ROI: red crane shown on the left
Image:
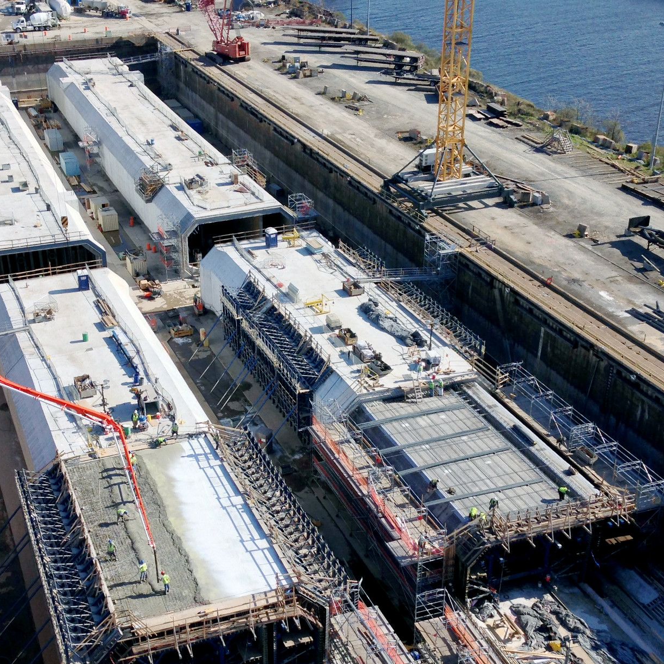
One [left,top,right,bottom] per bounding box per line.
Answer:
[209,0,255,60]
